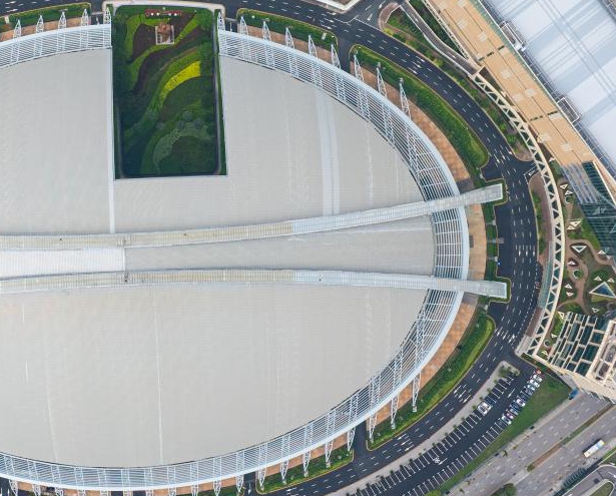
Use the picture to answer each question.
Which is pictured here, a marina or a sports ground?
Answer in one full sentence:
What you see here is a sports ground.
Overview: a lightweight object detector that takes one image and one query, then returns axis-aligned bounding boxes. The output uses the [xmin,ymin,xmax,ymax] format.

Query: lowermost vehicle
[584,438,609,457]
